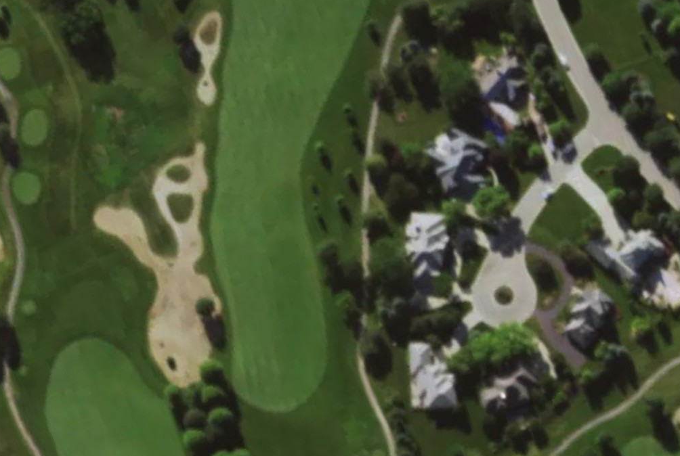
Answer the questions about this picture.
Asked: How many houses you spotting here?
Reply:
7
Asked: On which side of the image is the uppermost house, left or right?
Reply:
right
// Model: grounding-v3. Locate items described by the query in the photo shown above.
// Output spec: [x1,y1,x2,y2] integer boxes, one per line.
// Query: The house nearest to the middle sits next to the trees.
[408,208,454,295]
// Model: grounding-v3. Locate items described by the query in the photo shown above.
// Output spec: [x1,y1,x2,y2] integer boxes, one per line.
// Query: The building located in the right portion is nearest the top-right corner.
[470,50,533,117]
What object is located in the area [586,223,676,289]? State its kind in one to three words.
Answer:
house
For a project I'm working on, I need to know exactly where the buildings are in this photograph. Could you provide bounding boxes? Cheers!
[559,282,619,351]
[428,122,493,197]
[470,50,533,117]
[408,208,454,295]
[586,223,676,289]
[474,362,549,423]
[405,340,459,417]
